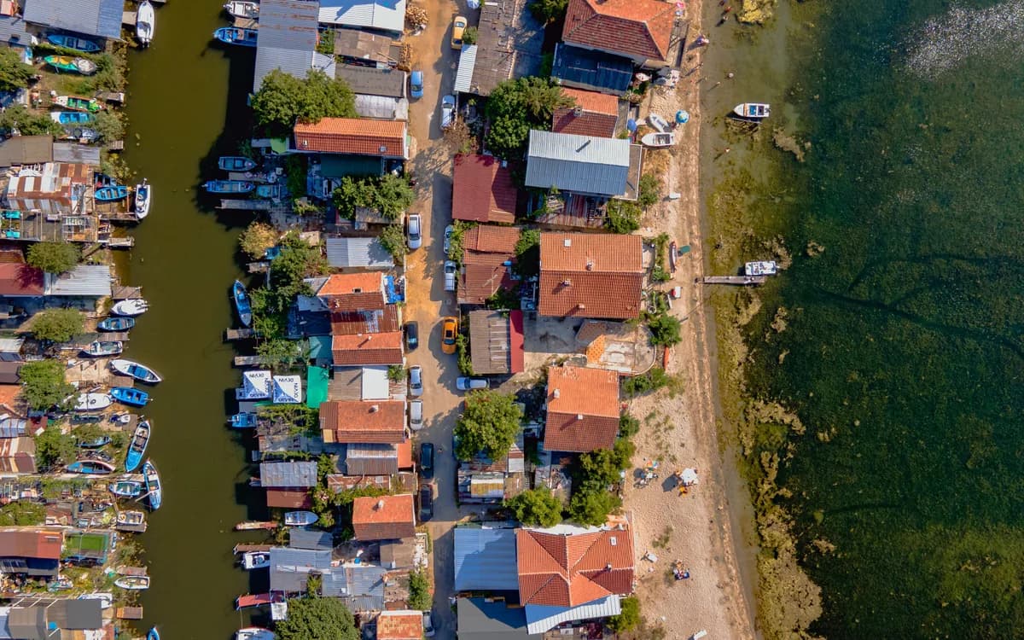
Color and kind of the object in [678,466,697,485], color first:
white umbrella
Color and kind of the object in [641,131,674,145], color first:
white boat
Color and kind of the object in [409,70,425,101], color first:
blue car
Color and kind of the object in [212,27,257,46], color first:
blue boat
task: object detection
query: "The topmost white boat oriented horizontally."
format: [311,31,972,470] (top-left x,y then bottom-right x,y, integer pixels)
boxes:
[222,1,259,18]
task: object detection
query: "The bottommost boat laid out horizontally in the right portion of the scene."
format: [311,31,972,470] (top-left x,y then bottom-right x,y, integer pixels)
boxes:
[744,261,781,276]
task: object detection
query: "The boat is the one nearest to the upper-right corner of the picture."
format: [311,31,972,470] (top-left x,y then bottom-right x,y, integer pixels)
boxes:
[734,102,775,117]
